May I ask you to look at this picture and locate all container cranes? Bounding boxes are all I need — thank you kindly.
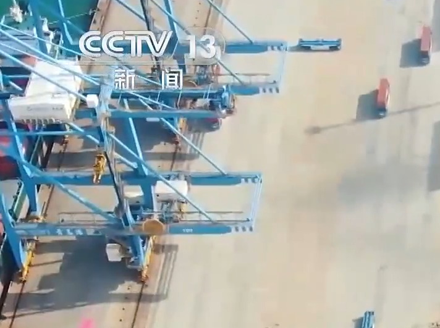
[21,0,286,147]
[0,24,259,291]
